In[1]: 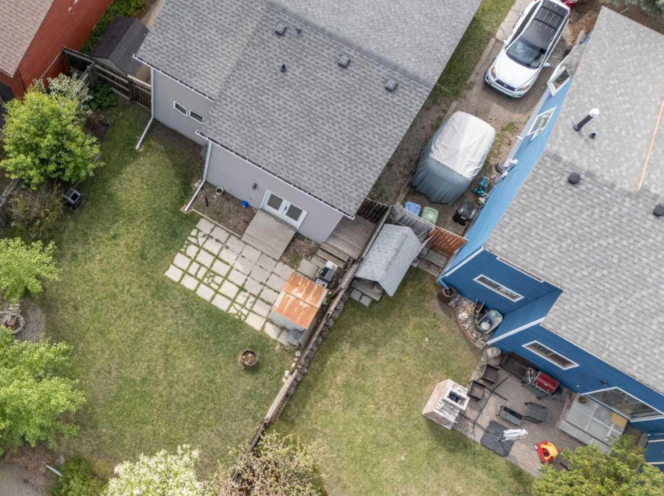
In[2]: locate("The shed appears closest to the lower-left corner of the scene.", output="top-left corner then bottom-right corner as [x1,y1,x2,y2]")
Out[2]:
[268,273,328,335]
